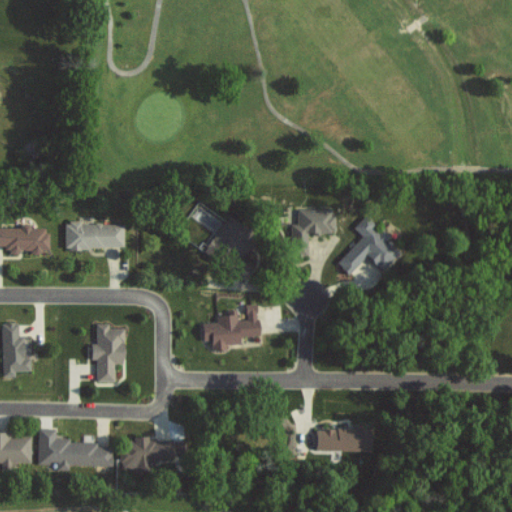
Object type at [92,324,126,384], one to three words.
house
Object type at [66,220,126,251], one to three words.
house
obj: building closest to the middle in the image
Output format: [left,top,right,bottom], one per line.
[208,222,264,262]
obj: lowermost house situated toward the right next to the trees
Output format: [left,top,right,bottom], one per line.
[318,422,374,452]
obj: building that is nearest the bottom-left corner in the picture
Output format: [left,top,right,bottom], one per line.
[0,433,32,470]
